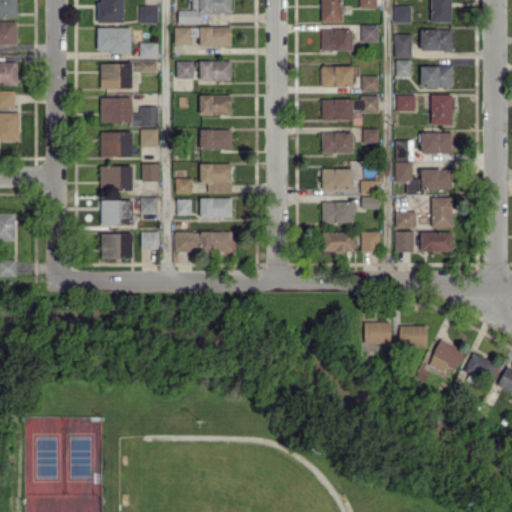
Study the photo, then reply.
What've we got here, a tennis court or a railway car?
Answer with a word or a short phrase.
tennis court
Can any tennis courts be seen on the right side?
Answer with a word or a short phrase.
No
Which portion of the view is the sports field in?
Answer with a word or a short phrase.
bottom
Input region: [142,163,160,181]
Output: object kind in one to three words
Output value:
building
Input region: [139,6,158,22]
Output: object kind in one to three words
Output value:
building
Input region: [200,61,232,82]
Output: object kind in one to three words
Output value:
house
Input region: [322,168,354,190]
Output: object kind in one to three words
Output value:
house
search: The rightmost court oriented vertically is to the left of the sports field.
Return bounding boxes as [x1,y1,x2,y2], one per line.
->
[65,418,102,494]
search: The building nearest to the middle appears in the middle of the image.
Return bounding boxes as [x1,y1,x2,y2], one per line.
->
[200,232,234,254]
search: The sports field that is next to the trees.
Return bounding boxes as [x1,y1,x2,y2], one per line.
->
[120,438,338,512]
